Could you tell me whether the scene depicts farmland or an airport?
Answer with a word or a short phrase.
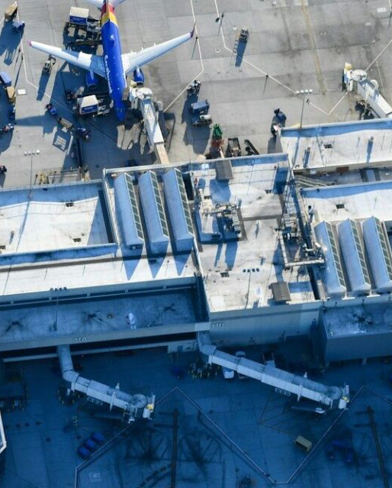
airport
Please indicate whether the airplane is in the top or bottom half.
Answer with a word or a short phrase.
top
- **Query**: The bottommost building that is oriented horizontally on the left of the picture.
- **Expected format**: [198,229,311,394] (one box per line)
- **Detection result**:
[0,290,206,363]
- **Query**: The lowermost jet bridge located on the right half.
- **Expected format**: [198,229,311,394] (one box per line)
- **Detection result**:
[199,328,354,411]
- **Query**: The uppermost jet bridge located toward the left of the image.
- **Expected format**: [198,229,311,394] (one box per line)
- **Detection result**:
[124,76,168,167]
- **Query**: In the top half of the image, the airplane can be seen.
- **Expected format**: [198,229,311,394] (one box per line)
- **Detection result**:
[25,0,196,121]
